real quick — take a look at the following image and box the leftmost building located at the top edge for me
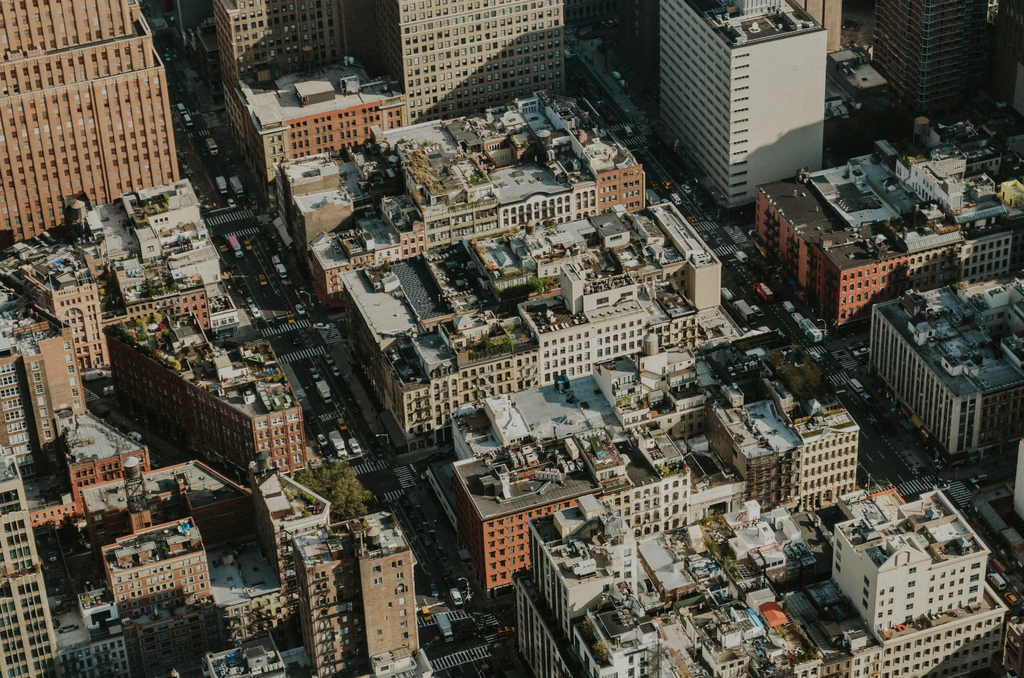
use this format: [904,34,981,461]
[0,0,176,244]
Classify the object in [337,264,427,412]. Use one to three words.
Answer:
building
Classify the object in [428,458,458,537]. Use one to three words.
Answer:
building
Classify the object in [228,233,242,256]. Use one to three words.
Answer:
vehicle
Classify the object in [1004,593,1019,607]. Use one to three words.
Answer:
car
